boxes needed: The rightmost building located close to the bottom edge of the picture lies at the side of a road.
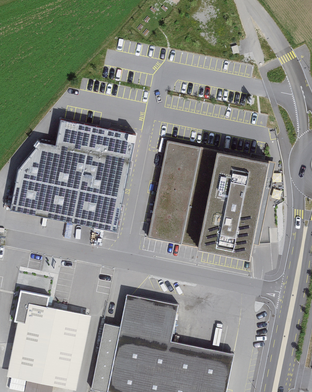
[108,295,234,392]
